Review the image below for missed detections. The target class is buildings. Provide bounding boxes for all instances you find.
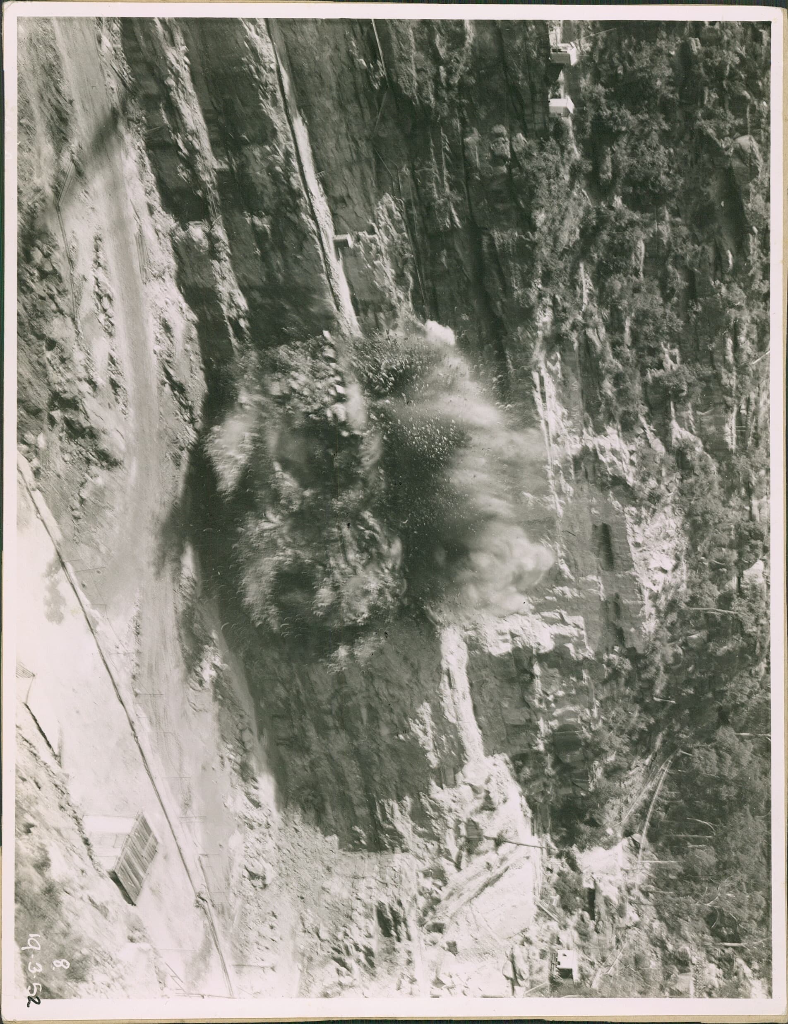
[540,37,578,67]
[330,229,353,248]
[538,89,575,120]
[545,949,584,985]
[78,812,157,899]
